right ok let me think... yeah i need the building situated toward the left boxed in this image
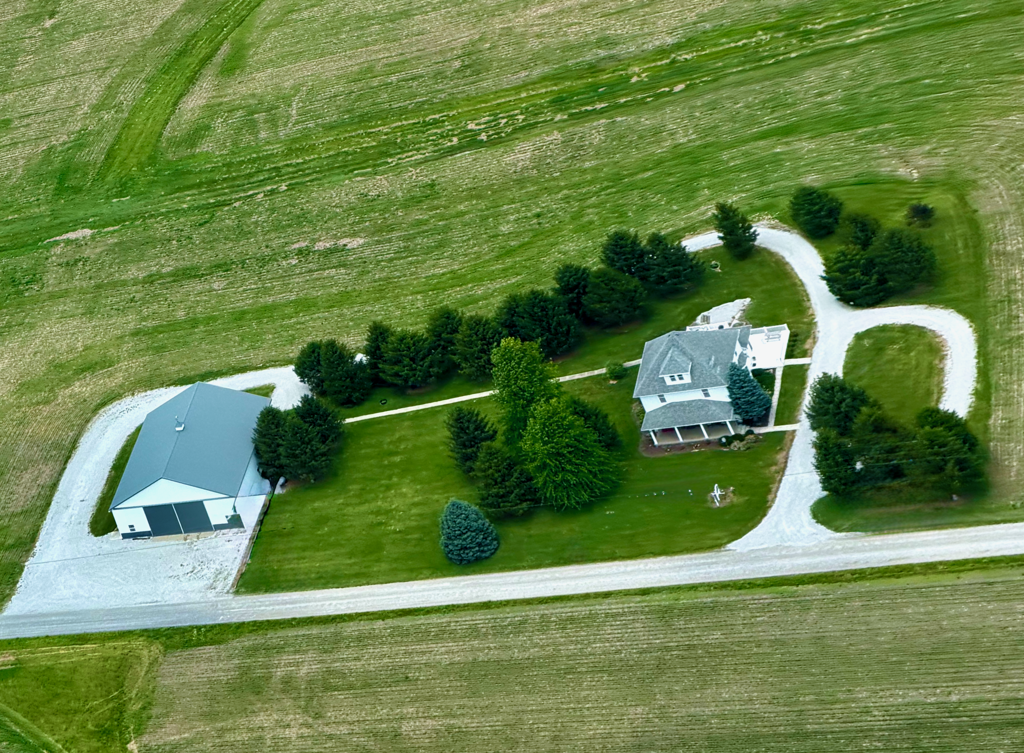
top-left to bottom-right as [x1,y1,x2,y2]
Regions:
[108,381,278,540]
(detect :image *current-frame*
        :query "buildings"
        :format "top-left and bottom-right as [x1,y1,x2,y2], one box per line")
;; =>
[632,324,757,451]
[108,381,278,540]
